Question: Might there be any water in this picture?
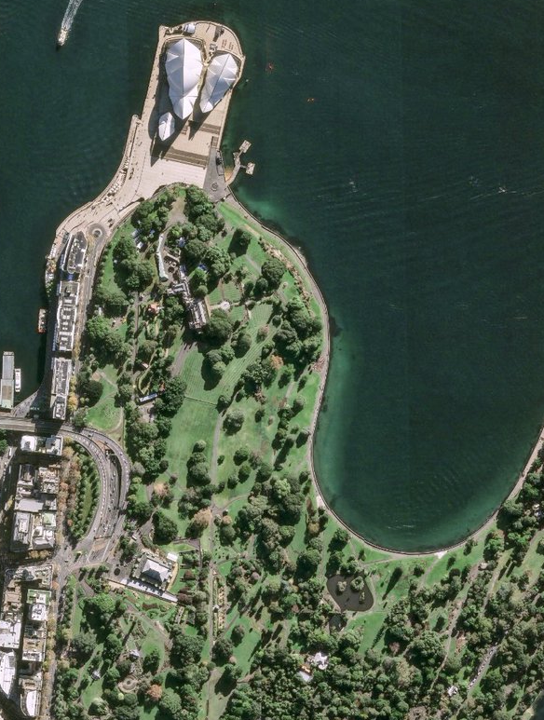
Yes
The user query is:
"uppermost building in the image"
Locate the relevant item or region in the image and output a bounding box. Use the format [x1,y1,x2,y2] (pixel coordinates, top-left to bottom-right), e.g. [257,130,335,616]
[151,24,241,167]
